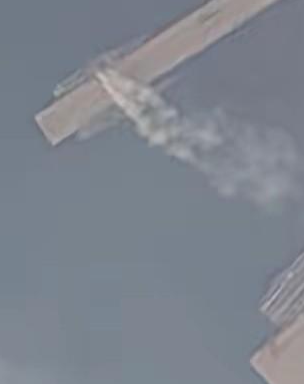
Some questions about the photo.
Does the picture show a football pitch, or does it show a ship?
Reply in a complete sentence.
The one in the frame is a ship.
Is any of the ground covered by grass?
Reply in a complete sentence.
No, the picture contains no grass.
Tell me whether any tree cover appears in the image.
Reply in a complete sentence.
No, there is no tree cover in the image.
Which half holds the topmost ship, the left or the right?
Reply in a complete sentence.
You can find the topmost ship on the left side of the picture.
